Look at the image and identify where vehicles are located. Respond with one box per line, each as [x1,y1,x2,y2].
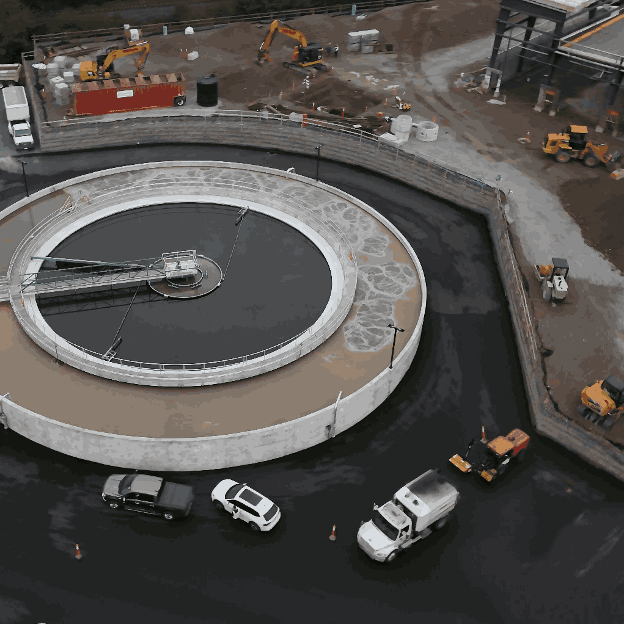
[538,251,571,292]
[255,15,329,78]
[355,459,466,566]
[572,380,624,432]
[97,471,197,521]
[458,431,534,483]
[0,60,22,88]
[72,38,150,80]
[544,127,616,167]
[208,481,284,535]
[1,88,31,136]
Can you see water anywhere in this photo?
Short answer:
Yes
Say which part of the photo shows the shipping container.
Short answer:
top left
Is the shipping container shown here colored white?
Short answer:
No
